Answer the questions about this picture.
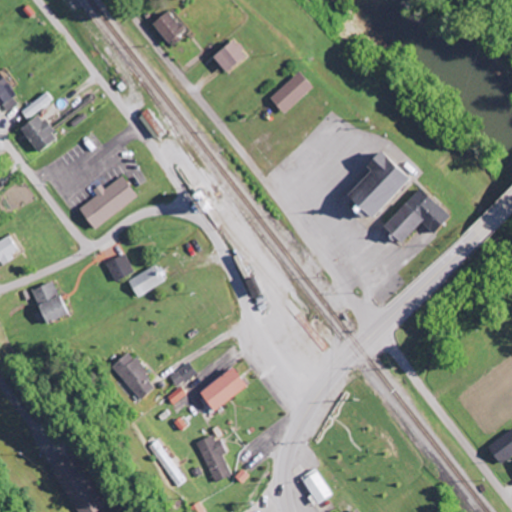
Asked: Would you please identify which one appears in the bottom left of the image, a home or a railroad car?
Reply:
home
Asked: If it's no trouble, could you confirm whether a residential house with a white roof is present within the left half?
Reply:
Yes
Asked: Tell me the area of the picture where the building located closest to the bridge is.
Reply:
right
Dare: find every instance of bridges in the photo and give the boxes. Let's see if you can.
[460,186,512,251]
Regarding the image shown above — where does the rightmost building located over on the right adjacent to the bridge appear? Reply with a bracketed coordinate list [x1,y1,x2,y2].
[384,189,449,243]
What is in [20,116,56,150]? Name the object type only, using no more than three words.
house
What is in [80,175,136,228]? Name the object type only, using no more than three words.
building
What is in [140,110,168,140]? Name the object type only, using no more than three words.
shed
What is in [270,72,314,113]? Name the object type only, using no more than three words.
house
